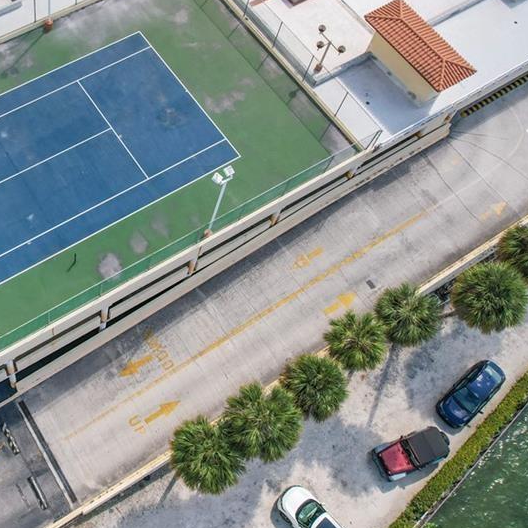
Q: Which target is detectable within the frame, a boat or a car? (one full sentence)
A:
There is a car in the scene.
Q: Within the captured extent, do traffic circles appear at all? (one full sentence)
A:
No, the frame has no traffic circle in it.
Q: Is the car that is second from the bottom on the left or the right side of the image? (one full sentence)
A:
The car that is second from the bottom is on the right side of the image.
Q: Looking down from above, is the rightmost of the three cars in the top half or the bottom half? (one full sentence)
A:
The rightmost of the three cars is in the bottom half of the image.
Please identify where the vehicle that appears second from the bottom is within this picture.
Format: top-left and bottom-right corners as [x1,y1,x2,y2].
[369,425,455,481]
